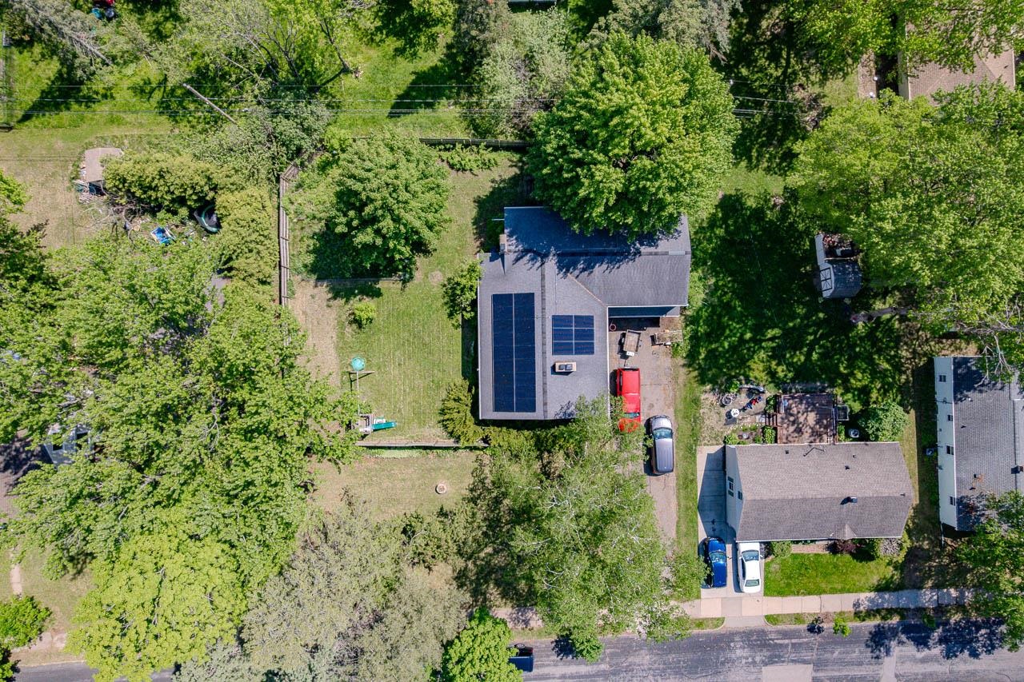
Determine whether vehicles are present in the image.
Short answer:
Yes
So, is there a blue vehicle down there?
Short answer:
Yes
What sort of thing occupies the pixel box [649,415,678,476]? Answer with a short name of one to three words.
van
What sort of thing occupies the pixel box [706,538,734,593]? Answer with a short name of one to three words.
car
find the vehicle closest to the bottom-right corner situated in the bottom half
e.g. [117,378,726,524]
[736,542,765,599]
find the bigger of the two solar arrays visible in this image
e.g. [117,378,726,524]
[492,293,535,412]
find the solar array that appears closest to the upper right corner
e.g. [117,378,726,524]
[553,315,594,355]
